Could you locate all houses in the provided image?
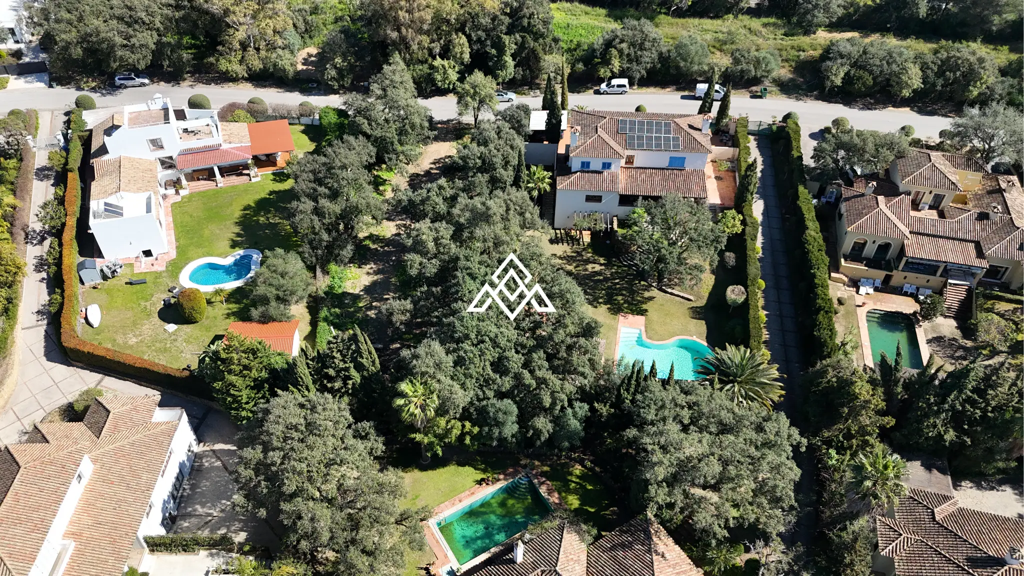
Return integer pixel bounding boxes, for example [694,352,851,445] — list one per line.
[471,509,705,576]
[865,486,1024,576]
[87,87,258,258]
[832,147,1024,319]
[554,108,718,232]
[0,0,43,50]
[0,394,201,576]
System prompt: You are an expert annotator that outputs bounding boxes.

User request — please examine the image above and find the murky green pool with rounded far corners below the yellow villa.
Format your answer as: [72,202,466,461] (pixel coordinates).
[861,304,928,375]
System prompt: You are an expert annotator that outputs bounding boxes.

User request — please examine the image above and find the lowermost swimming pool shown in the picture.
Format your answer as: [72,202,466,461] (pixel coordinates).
[432,470,558,567]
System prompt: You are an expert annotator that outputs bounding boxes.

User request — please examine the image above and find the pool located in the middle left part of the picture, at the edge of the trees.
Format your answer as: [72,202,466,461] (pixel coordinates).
[179,247,264,291]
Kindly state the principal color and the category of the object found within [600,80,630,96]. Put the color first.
white vehicle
